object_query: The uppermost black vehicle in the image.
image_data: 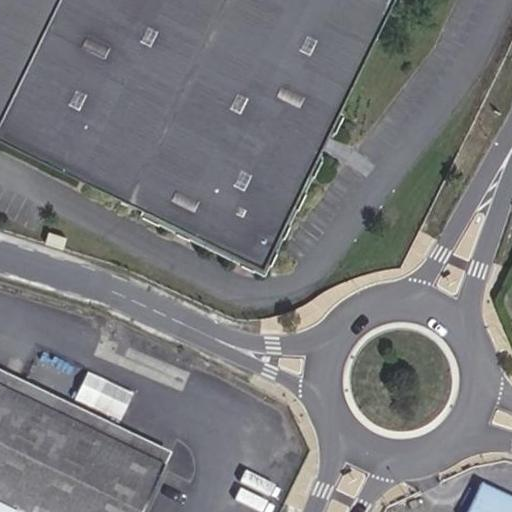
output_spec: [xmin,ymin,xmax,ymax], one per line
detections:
[350,314,370,334]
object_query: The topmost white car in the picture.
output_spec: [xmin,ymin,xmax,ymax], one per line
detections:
[428,318,448,336]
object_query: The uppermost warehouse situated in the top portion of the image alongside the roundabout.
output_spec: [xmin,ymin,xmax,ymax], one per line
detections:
[0,0,398,276]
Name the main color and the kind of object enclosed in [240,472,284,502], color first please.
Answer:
white truck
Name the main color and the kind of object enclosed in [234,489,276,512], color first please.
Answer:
white truck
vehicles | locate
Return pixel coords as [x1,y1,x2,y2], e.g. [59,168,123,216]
[240,472,284,502]
[350,314,370,334]
[163,486,186,502]
[428,318,448,336]
[234,489,276,512]
[354,500,368,512]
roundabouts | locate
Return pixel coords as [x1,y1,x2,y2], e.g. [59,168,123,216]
[300,280,504,482]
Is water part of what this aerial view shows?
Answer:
No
